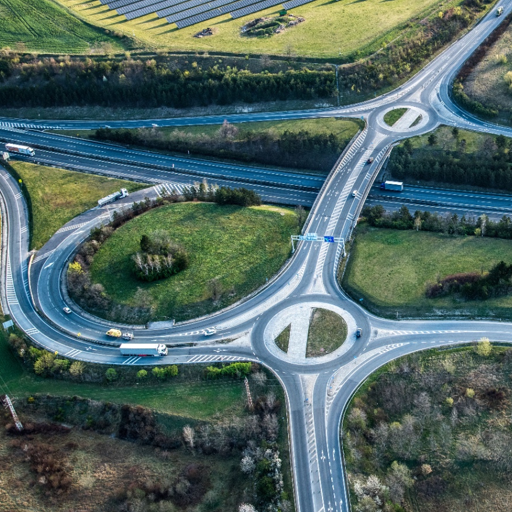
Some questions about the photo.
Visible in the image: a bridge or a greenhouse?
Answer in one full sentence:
It is a bridge that can be seen here.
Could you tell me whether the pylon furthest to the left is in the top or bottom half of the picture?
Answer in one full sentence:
The bottom half of the photo is where the pylon furthest to the left is.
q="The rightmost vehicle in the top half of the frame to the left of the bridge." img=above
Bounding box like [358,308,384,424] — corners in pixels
[95,186,130,206]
